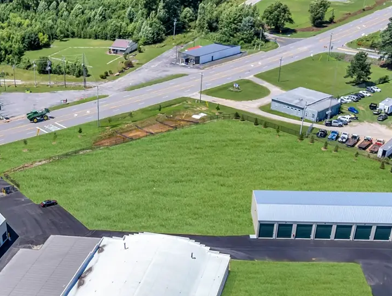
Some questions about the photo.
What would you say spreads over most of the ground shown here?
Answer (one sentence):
The bulk of the photo consists of grass.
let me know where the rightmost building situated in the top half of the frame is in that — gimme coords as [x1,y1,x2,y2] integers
[271,85,343,121]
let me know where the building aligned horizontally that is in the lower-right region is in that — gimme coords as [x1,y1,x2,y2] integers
[248,195,392,243]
